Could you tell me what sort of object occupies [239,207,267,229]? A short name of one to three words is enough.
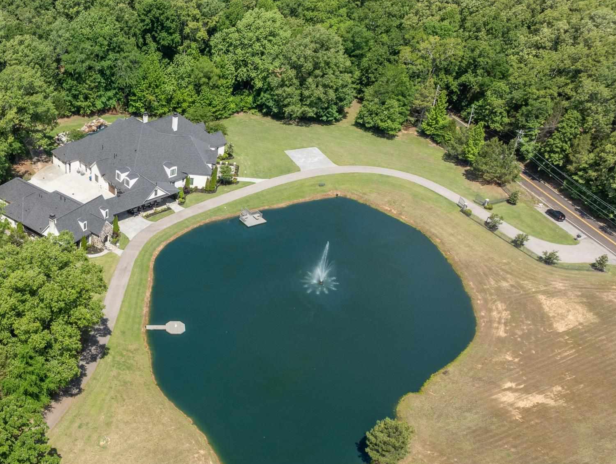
pier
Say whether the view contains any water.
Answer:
Yes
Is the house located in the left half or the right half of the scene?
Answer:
left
